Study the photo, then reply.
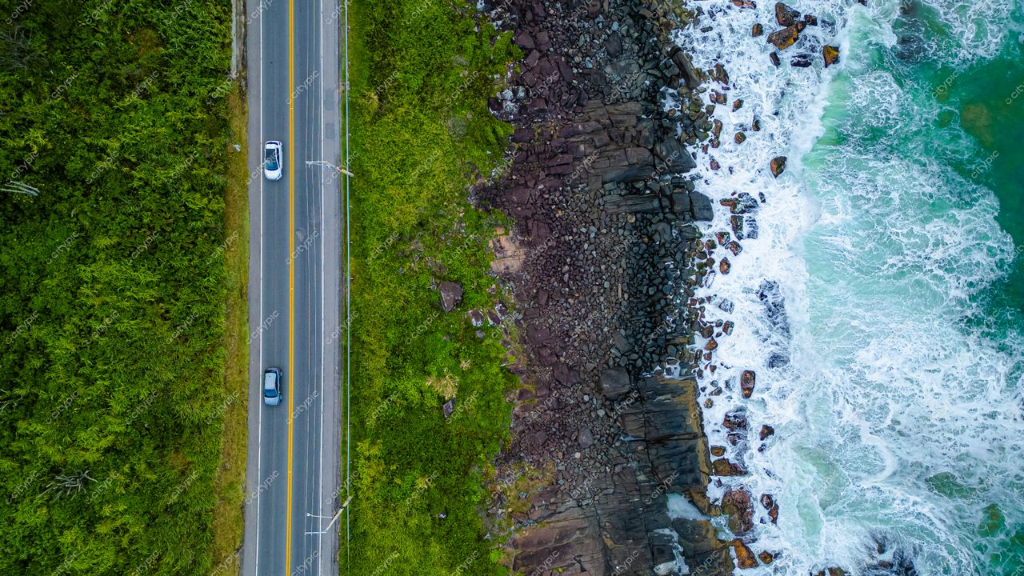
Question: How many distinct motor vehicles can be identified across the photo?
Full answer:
In total, there are 2 motor vehicles in the scene.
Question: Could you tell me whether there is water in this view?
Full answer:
Yes, there is water in the image.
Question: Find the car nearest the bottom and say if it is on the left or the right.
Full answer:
The car nearest the bottom appears in the left half of the scene.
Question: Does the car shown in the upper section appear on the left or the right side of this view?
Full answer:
The car shown in the upper section appears in the left half of the scene.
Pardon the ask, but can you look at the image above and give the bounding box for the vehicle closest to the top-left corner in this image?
[261,141,283,181]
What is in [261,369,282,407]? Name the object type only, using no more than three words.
car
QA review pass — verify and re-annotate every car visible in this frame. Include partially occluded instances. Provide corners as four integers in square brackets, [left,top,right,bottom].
[261,369,282,407]
[261,141,283,181]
